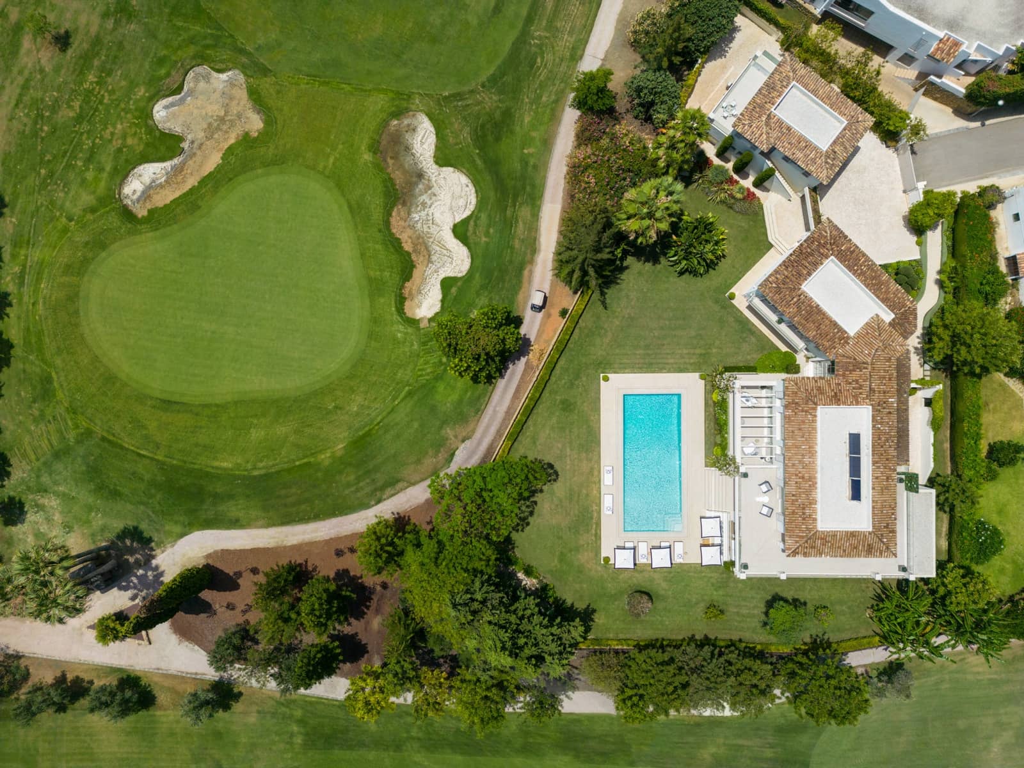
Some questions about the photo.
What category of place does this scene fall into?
residential area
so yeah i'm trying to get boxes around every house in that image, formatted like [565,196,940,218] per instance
[799,0,1024,87]
[698,49,876,192]
[1002,191,1024,301]
[729,216,941,581]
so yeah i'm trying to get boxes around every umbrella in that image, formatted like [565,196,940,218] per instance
[613,547,635,569]
[700,544,722,567]
[700,516,722,539]
[650,546,673,569]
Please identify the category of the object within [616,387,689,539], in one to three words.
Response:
swimming pool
